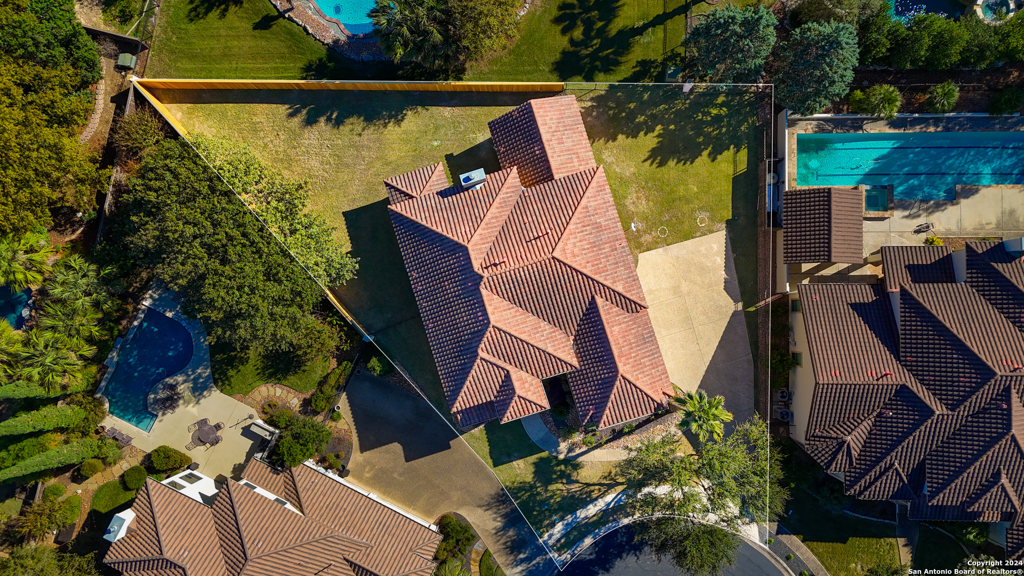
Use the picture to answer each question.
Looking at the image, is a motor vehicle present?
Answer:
No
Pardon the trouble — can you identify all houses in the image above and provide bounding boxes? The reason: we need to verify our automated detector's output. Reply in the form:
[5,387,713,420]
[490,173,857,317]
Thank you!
[382,94,674,431]
[100,454,444,576]
[789,237,1024,576]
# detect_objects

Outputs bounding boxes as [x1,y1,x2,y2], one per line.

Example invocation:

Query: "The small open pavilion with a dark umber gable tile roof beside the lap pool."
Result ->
[773,187,876,264]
